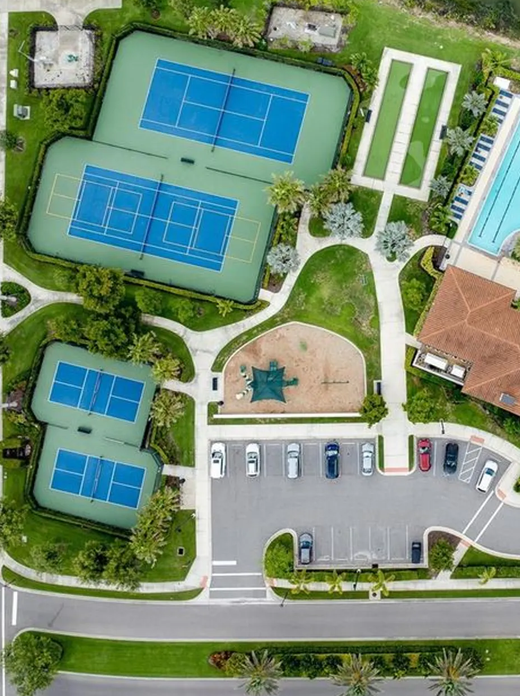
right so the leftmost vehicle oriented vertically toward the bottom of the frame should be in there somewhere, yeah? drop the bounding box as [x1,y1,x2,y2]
[209,442,227,478]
